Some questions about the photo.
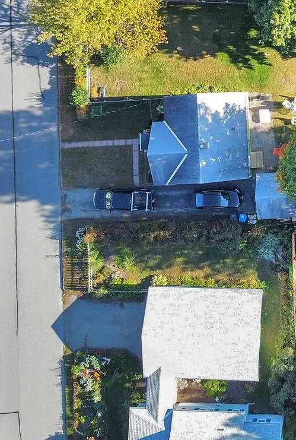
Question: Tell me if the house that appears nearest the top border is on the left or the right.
right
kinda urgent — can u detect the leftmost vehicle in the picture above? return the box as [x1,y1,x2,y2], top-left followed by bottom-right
[92,190,152,213]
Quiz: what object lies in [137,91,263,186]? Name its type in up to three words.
house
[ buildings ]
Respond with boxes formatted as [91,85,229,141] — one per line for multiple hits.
[254,173,295,221]
[128,284,286,440]
[137,91,263,186]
